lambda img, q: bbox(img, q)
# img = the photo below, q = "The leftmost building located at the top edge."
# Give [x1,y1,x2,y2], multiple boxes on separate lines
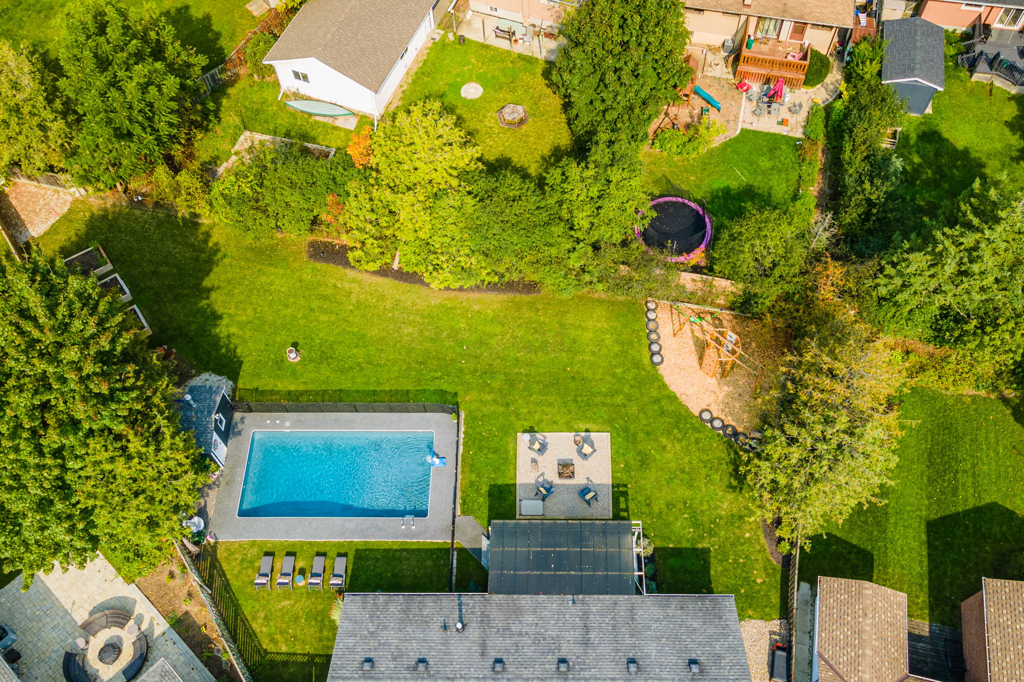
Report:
[267,0,445,125]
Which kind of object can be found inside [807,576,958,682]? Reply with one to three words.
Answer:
house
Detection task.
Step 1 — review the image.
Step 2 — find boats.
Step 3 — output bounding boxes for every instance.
[283,99,354,114]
